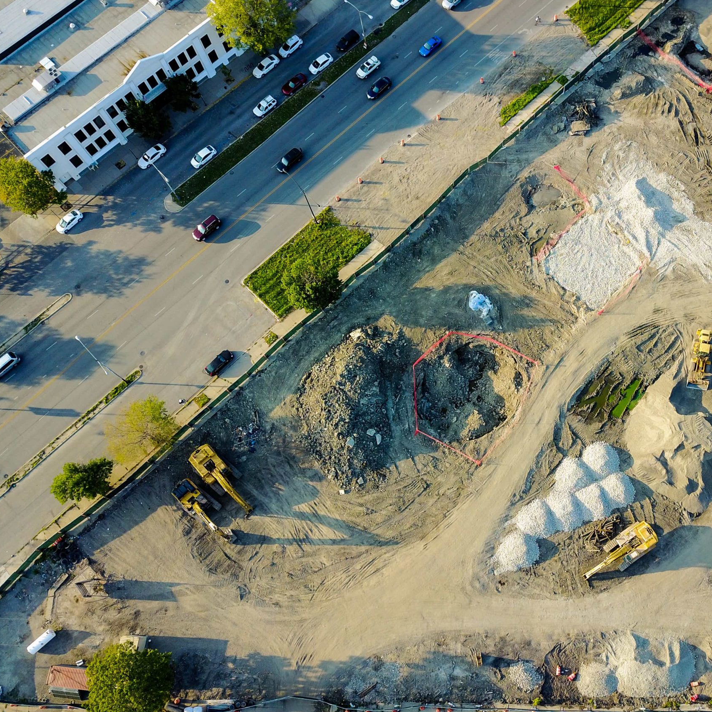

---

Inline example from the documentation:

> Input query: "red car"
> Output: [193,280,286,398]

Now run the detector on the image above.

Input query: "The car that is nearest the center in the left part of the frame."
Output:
[204,349,235,378]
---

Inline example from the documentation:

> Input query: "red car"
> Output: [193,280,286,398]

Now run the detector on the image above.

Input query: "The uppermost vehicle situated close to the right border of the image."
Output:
[688,331,712,389]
